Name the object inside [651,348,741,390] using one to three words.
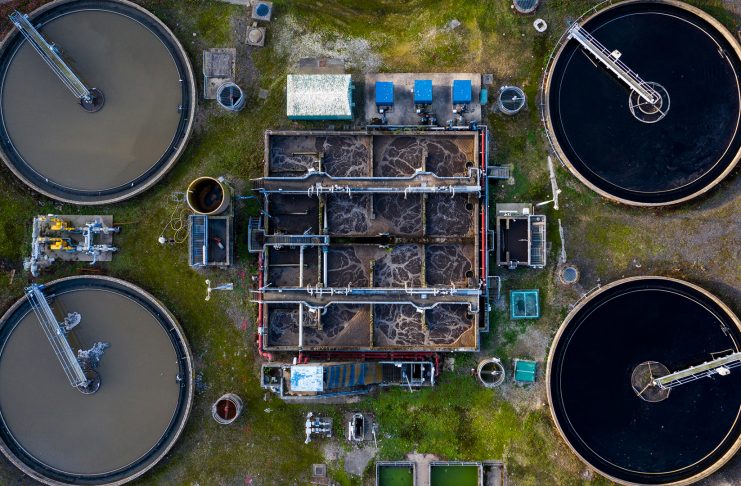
bridge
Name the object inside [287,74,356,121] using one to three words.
shed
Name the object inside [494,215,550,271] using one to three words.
storage tank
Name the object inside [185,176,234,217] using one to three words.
storage tank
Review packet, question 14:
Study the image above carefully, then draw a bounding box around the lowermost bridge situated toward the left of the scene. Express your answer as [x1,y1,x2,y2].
[22,283,87,391]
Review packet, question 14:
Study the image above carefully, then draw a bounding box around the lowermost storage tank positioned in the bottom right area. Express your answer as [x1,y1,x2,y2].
[544,275,741,486]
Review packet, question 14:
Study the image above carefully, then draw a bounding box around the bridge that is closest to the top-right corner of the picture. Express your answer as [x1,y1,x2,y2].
[565,22,662,107]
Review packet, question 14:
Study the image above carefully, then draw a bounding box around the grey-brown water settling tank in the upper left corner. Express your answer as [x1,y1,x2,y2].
[0,0,200,205]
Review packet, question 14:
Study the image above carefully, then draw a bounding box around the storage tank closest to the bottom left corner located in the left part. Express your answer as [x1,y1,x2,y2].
[0,275,198,486]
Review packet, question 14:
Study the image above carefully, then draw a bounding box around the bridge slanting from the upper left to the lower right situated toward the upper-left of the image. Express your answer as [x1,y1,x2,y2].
[3,6,92,99]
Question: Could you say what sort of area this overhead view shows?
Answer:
industrial area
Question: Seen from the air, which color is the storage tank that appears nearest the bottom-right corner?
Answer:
black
